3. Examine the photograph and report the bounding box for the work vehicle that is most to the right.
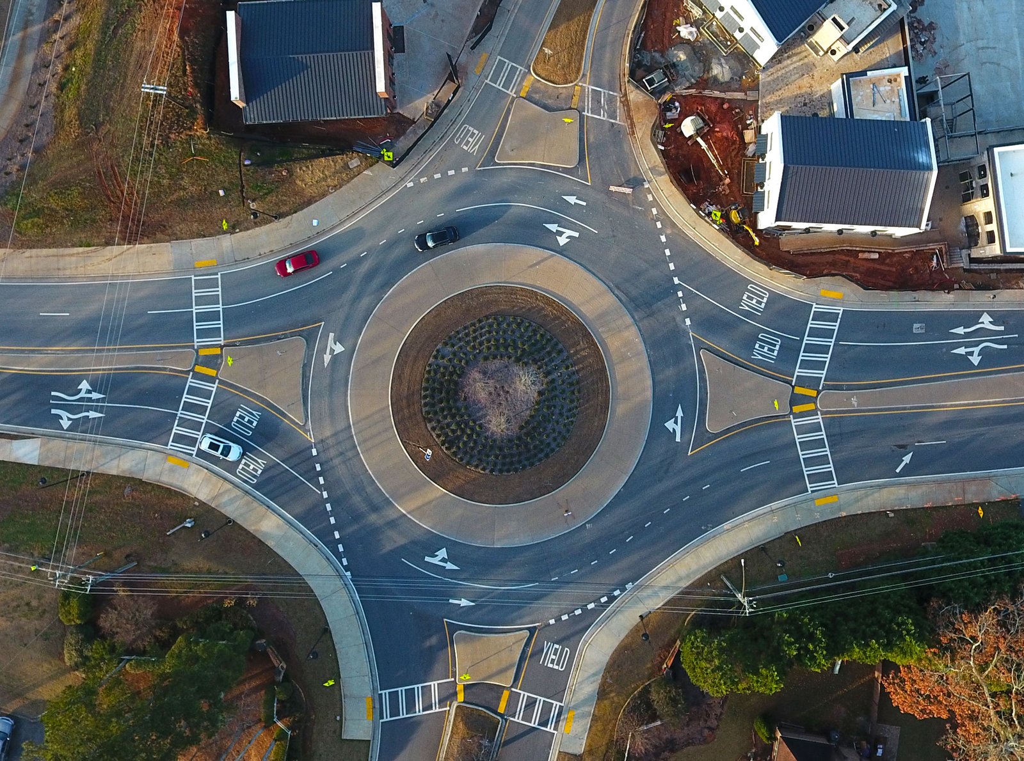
[729,210,760,247]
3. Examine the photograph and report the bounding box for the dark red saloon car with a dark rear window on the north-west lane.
[274,249,319,275]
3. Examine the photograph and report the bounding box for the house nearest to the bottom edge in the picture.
[762,723,840,761]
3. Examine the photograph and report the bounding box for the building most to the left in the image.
[221,0,400,130]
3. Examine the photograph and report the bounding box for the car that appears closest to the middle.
[414,224,459,251]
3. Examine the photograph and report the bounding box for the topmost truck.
[642,63,670,89]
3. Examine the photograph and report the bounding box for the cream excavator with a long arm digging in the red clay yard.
[676,116,729,180]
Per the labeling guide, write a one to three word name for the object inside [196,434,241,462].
car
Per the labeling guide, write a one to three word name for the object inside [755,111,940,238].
building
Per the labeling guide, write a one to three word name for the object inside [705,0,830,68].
building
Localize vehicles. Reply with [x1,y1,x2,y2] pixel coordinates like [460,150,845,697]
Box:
[274,249,319,275]
[729,210,760,247]
[642,63,670,89]
[0,716,13,759]
[414,224,459,251]
[196,434,241,462]
[676,116,729,180]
